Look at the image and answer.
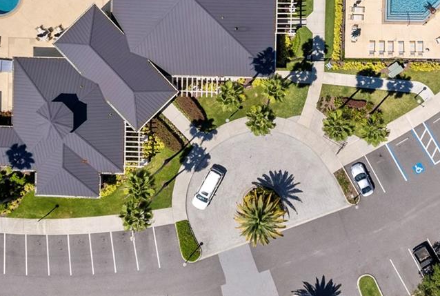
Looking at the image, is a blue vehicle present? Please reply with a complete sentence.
No, I can't see a single blue vehicle in this photo.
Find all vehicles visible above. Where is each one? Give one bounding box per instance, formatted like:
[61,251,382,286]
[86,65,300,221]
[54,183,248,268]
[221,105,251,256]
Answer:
[414,243,440,290]
[350,162,374,201]
[194,167,223,208]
